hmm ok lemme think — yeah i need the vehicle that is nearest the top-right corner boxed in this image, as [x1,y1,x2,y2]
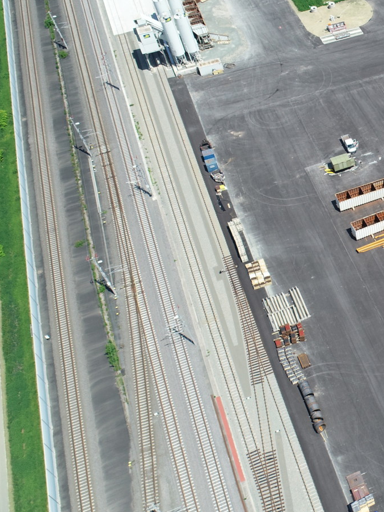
[339,134,358,151]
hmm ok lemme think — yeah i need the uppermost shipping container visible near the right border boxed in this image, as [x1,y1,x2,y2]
[334,177,384,210]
